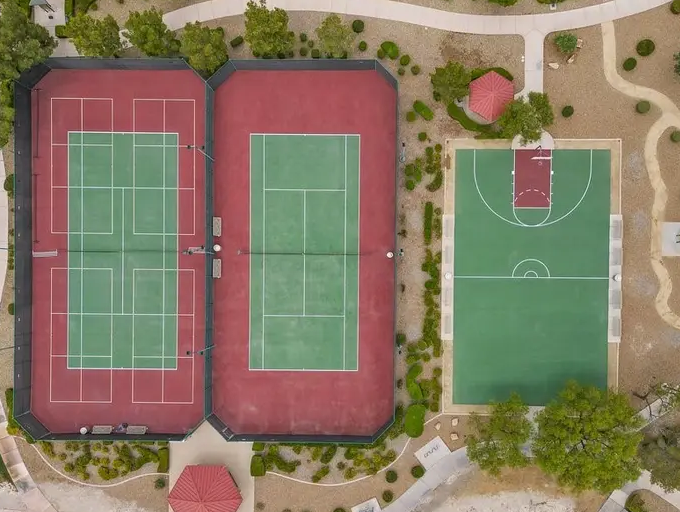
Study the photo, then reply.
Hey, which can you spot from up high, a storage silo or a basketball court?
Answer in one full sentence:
I can see a basketball court in this picture.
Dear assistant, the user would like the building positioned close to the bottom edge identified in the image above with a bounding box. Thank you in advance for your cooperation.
[167,462,243,512]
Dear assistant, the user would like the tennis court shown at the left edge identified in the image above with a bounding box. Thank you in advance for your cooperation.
[31,69,206,434]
